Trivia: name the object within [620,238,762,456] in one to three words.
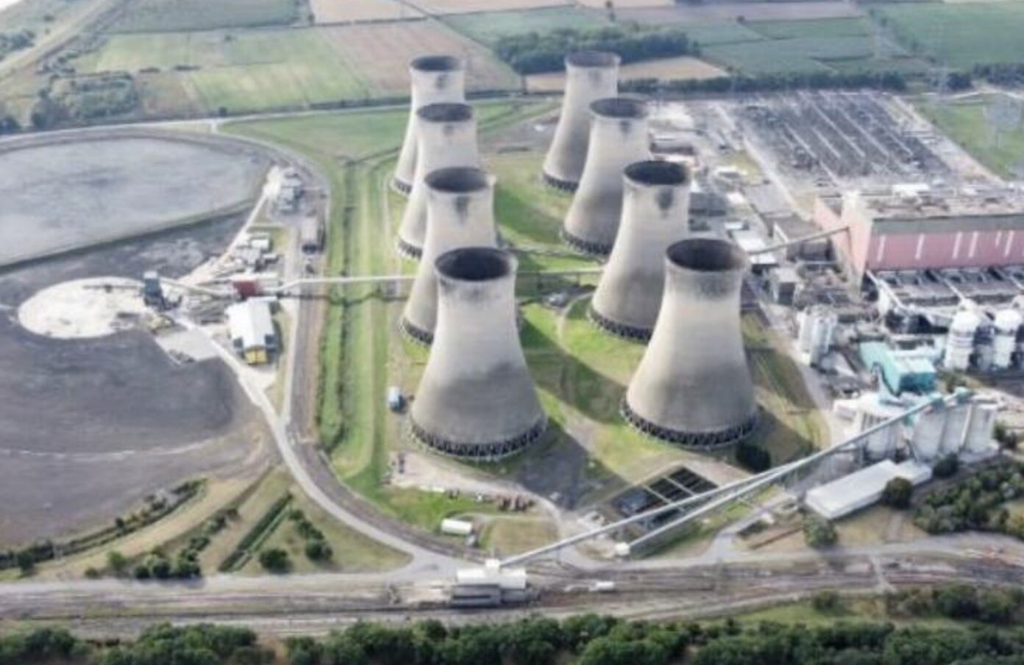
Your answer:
cooling tower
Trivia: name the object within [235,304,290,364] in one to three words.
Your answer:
shed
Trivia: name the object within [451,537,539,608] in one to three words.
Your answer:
building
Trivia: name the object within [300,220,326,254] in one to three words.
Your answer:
shed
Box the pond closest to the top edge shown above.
[0,128,279,276]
